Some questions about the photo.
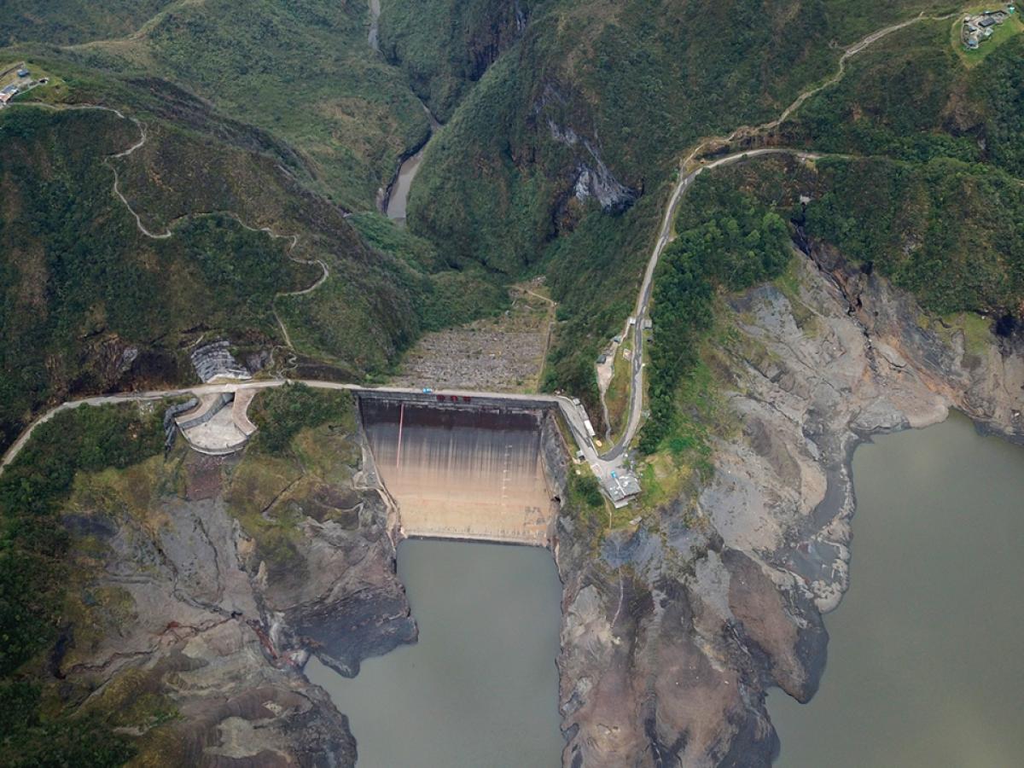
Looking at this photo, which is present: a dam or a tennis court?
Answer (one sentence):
Visible in the photo is a dam.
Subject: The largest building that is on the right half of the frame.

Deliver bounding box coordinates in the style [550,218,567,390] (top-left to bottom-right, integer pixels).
[605,477,642,512]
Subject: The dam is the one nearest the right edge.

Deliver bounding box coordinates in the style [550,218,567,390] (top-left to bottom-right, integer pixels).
[349,281,557,552]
